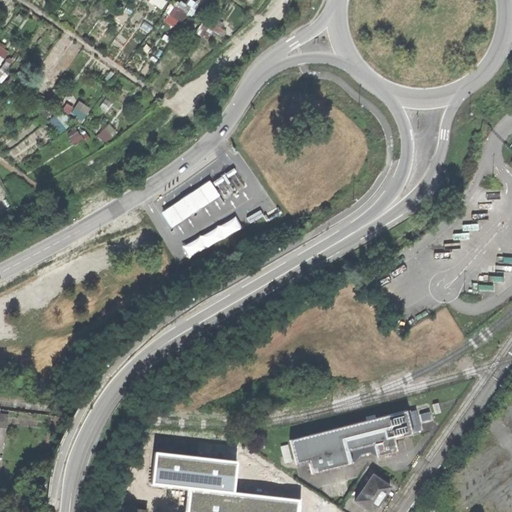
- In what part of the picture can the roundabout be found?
top right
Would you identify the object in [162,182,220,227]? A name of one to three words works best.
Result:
building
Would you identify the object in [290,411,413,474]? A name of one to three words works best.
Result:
building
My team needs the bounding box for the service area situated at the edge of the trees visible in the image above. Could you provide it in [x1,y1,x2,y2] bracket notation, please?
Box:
[147,146,277,262]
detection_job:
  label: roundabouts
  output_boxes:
[328,0,512,108]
